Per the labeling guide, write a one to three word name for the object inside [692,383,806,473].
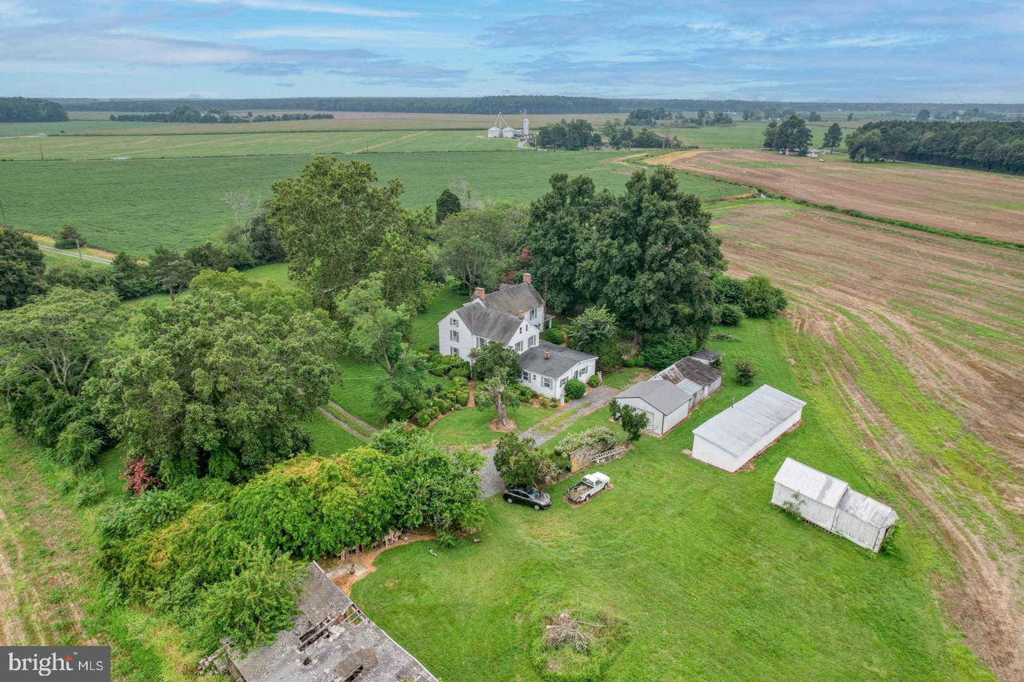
shed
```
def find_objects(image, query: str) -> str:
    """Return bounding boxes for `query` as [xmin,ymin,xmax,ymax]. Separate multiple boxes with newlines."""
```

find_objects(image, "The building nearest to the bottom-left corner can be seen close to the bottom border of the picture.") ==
[213,558,442,682]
